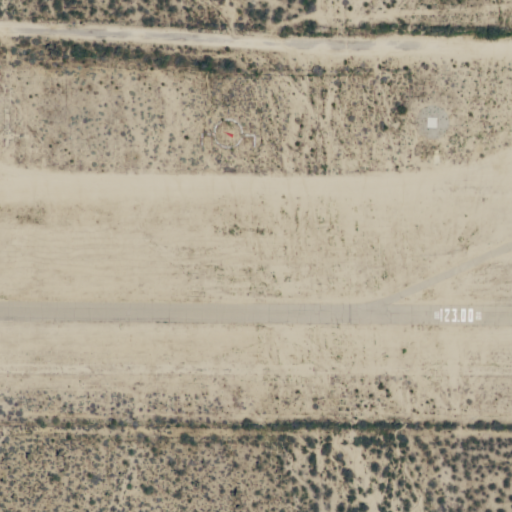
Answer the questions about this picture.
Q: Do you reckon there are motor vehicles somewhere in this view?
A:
No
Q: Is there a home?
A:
No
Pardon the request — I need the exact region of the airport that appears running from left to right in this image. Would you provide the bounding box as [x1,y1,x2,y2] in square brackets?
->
[0,244,512,326]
